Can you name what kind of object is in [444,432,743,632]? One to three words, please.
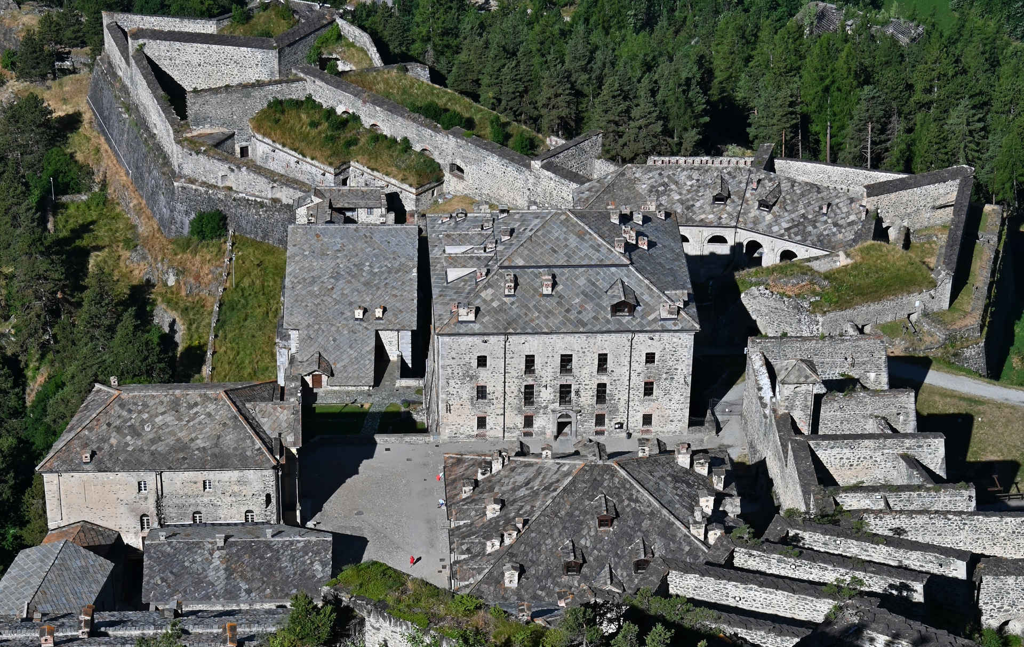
building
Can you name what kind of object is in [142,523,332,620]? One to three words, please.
shed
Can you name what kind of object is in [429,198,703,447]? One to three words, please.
building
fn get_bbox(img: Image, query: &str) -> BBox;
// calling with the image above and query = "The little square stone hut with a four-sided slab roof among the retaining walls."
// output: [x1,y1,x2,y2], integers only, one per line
[772,356,820,431]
